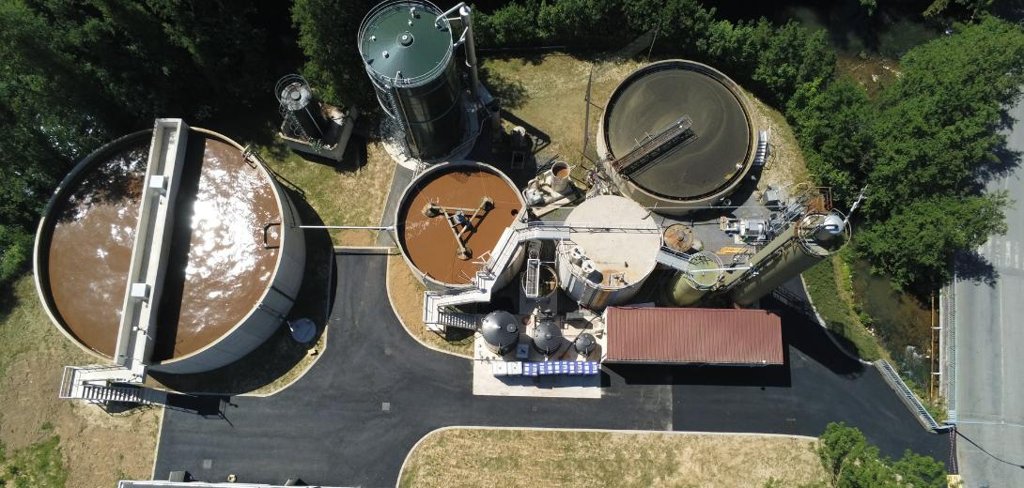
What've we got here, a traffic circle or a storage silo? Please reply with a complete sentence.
Of the two, only a storage silo appears.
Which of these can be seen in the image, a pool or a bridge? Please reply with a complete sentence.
Visible in the photo is a bridge.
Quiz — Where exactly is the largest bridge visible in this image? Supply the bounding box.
[114,118,196,383]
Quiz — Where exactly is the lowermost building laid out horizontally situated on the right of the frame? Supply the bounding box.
[600,306,783,367]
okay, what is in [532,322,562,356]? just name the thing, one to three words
storage tank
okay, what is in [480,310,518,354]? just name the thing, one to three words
storage tank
